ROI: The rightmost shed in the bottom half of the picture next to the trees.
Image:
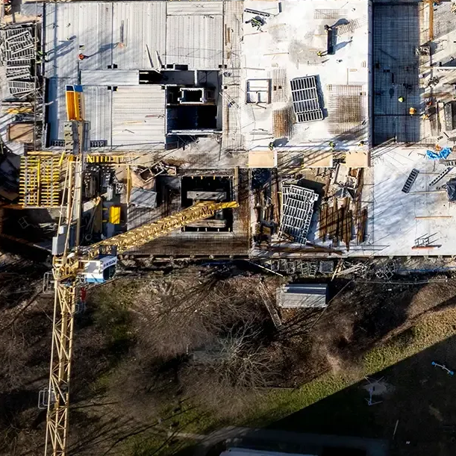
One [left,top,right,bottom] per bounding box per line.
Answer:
[276,280,331,308]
